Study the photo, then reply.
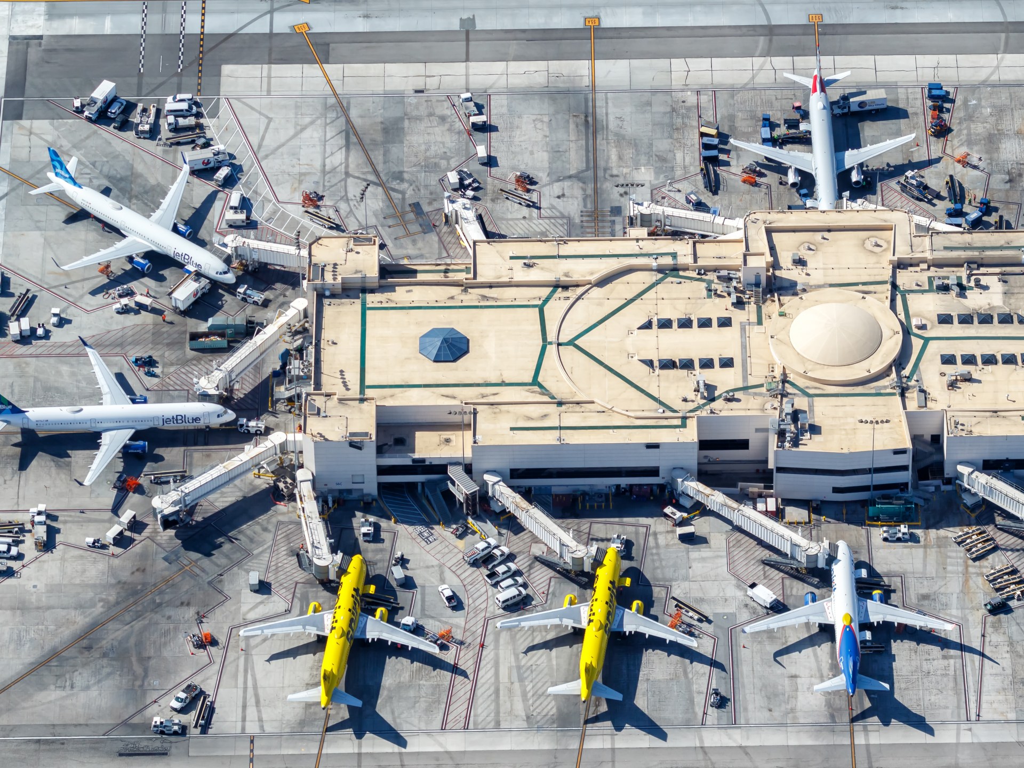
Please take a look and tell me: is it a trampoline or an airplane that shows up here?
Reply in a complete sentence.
Visible in the photo is an airplane.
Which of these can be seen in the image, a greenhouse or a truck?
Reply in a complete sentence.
There is a truck in the scene.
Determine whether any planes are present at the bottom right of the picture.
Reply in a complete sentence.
Yes, I can see a plane at the bottom right of the picture.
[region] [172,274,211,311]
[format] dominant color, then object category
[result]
white truck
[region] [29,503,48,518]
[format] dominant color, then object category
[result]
white work vehicle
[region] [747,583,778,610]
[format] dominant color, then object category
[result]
white vehicle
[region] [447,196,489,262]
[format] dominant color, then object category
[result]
white jet bridge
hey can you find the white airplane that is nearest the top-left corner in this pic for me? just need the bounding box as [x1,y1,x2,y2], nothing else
[29,150,236,284]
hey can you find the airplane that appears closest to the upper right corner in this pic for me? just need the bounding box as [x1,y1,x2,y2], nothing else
[729,51,916,211]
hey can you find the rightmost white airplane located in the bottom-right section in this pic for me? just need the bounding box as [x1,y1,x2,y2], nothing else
[741,542,956,698]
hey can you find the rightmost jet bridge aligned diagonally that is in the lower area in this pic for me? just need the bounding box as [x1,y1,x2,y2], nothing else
[959,466,1024,525]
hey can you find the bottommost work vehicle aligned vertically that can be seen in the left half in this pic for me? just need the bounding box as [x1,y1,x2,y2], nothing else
[194,692,209,730]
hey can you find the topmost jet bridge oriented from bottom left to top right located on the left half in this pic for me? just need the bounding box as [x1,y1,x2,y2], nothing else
[202,300,308,403]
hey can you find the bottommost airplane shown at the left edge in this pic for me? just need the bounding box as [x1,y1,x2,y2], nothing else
[0,335,237,485]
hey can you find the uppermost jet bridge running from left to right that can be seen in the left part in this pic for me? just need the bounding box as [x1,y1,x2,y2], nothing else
[210,235,309,281]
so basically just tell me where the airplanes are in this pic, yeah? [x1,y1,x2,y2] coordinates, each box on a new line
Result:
[237,556,441,711]
[496,549,699,704]
[729,51,916,211]
[0,335,237,485]
[29,150,236,284]
[741,542,956,698]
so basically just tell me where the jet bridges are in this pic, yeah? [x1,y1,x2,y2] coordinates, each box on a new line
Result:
[210,235,309,281]
[152,434,304,528]
[202,300,308,403]
[959,466,1024,525]
[672,466,841,572]
[296,471,352,580]
[447,196,489,262]
[486,472,604,577]
[631,203,744,239]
